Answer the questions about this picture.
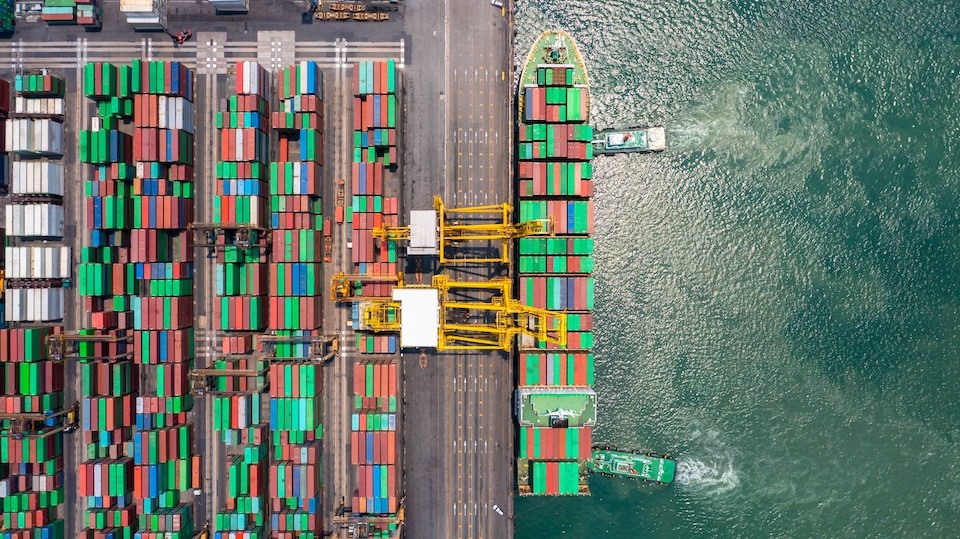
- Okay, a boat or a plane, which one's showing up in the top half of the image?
boat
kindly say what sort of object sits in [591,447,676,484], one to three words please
boat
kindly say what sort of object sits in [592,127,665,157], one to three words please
boat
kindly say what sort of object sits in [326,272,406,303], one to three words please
container crane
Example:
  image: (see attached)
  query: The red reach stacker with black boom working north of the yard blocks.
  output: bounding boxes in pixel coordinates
[162,30,190,48]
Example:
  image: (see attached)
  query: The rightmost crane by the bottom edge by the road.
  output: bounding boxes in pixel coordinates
[327,494,407,539]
